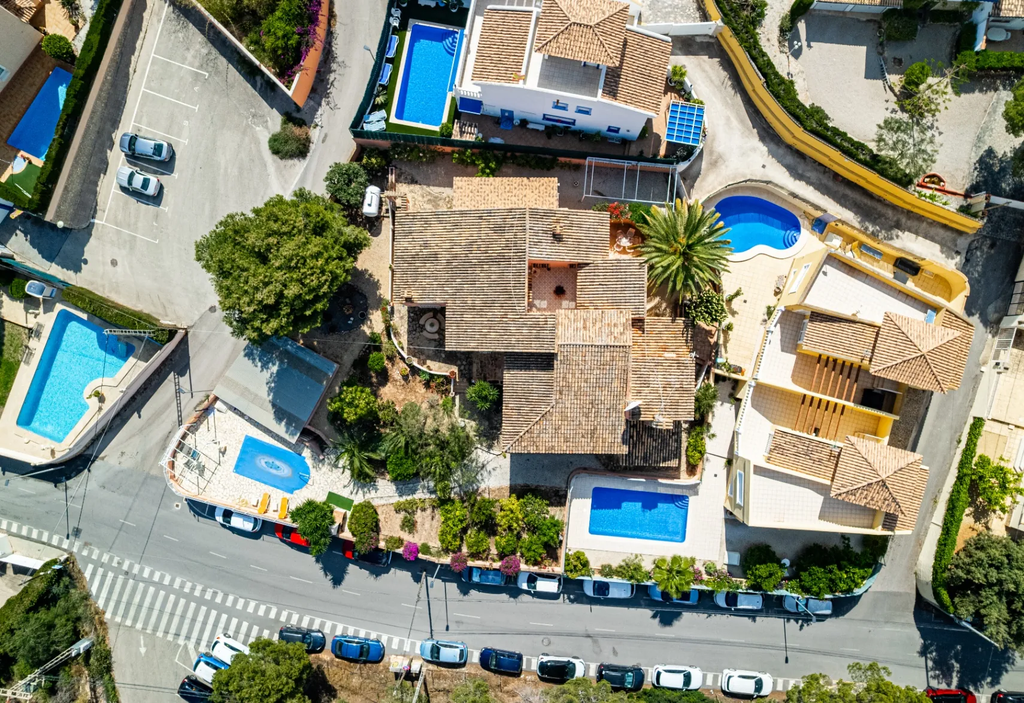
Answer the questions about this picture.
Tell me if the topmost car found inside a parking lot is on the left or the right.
left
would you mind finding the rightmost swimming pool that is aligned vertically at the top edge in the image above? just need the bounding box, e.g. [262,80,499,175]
[396,24,459,125]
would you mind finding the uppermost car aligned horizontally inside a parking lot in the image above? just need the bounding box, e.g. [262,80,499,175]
[121,132,176,163]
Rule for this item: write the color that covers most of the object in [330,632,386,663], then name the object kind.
blue car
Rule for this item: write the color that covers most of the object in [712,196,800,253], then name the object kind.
blue swimming pool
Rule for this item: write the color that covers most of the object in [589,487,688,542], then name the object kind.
blue swimming pool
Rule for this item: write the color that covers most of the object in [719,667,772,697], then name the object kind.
white car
